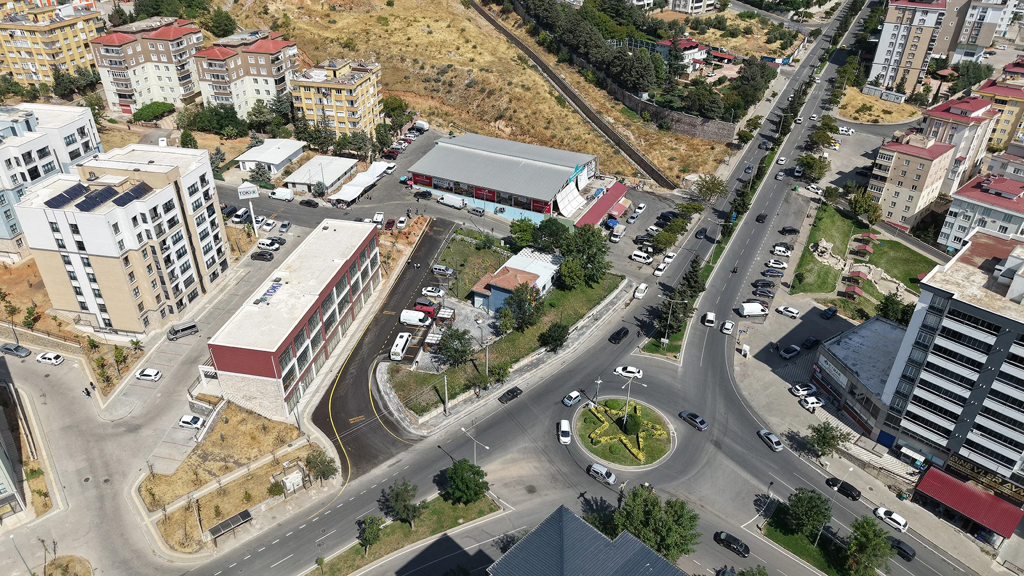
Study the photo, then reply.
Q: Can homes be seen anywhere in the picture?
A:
Yes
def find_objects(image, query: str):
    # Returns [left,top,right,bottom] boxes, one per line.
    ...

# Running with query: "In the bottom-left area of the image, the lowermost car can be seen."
[175,414,207,430]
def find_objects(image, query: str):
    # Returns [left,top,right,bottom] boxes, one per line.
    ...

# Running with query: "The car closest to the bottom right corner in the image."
[891,535,924,567]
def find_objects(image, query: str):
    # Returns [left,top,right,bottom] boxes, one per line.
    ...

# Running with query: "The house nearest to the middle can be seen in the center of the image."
[470,247,568,305]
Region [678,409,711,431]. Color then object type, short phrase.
gray car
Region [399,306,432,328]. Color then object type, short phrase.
white vehicle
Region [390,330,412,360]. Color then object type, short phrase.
white vehicle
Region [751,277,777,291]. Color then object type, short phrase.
black car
